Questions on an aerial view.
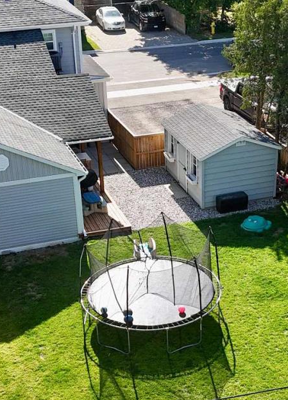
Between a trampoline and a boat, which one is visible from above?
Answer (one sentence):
Of the two, only a trampoline appears.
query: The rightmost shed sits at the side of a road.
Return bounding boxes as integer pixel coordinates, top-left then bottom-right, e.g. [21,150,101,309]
[158,101,286,208]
